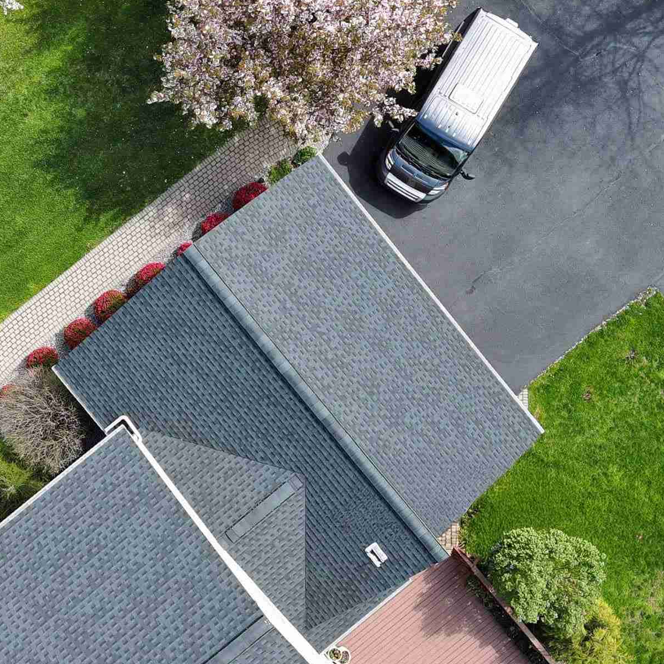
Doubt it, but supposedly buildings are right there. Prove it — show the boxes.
[0,151,548,664]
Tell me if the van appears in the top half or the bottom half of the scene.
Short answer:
top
